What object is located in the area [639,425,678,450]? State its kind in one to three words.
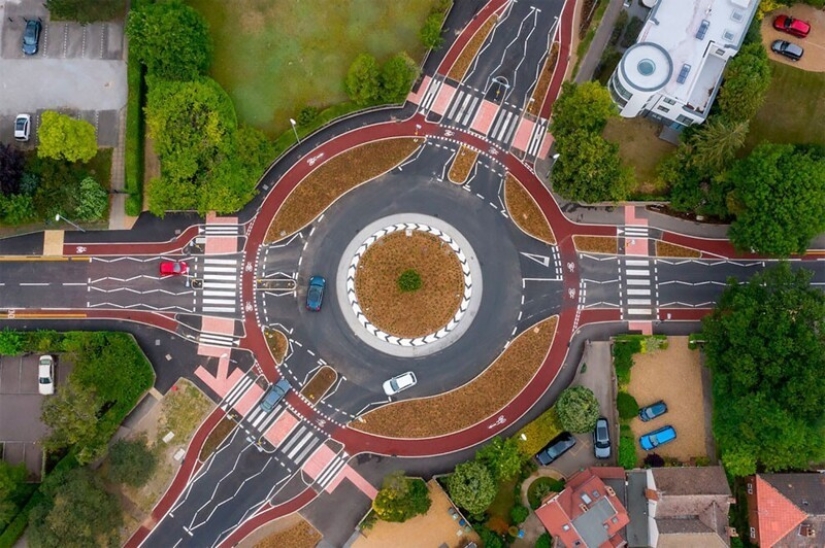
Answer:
car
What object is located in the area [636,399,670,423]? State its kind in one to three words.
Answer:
car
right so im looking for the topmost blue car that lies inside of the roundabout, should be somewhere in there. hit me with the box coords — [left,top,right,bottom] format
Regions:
[306,276,325,311]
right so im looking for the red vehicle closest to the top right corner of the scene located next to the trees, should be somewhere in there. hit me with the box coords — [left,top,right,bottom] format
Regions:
[771,15,811,37]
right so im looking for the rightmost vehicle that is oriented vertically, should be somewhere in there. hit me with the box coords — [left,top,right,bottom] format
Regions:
[592,417,612,458]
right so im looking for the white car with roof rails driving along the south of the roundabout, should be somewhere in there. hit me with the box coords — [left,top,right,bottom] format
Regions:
[381,372,418,395]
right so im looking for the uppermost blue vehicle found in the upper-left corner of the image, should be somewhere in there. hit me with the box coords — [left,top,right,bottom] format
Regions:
[21,20,43,56]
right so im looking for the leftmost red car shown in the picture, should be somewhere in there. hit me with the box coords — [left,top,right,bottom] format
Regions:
[159,259,189,276]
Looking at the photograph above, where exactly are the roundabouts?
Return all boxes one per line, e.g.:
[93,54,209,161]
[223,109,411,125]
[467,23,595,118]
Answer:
[239,120,587,457]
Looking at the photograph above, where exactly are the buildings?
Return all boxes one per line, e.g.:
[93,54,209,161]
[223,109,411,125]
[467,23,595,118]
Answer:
[744,473,825,548]
[531,469,631,548]
[641,467,739,548]
[606,0,764,135]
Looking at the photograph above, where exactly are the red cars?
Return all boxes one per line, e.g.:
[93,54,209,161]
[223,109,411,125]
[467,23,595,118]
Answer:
[159,259,189,276]
[771,15,811,37]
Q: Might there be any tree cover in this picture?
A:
Yes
